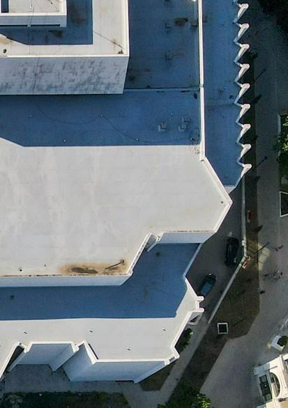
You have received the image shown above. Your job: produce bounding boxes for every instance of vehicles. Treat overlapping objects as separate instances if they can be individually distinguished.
[197,273,218,299]
[224,238,240,266]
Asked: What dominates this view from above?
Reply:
buildings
